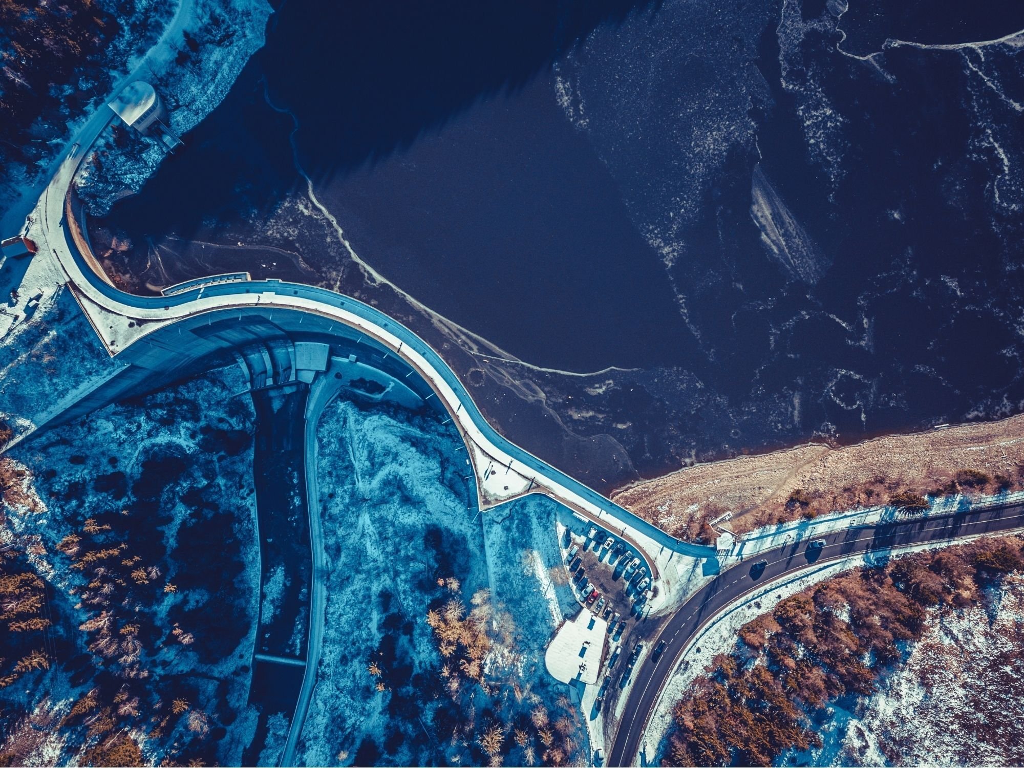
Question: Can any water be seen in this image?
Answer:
Yes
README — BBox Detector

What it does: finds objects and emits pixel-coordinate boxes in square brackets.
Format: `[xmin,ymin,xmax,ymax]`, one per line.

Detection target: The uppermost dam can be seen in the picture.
[0,109,717,622]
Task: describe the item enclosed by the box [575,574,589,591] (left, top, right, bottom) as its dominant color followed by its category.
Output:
blue car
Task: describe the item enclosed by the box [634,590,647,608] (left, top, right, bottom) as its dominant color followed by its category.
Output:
blue vehicle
